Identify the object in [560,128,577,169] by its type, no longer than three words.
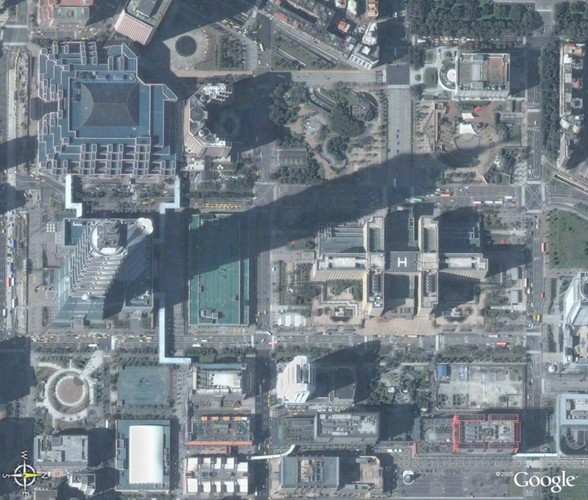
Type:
house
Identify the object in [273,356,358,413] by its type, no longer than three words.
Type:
building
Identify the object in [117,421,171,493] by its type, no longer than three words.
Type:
building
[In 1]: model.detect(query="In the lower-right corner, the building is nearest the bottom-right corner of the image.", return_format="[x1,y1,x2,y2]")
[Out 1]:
[549,394,588,460]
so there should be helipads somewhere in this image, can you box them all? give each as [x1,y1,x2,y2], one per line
[386,253,418,270]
